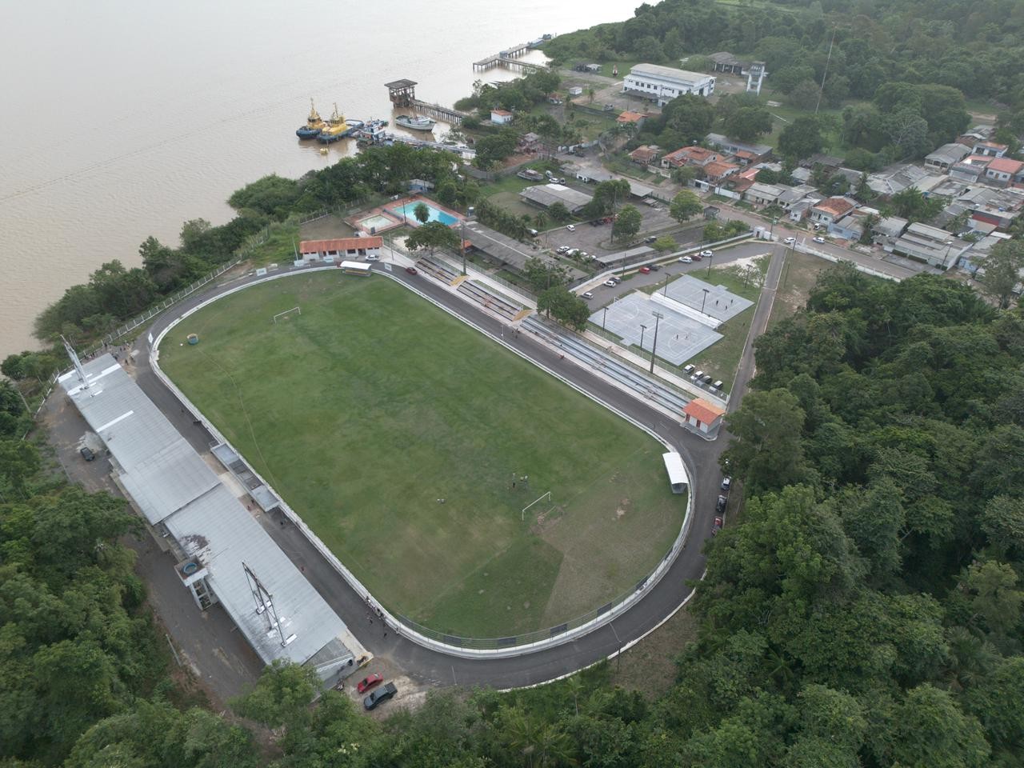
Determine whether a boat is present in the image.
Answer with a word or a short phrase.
Yes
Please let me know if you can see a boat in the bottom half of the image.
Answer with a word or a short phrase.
No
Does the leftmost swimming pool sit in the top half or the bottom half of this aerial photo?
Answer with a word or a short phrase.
top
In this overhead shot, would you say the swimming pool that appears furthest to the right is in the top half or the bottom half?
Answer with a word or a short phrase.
top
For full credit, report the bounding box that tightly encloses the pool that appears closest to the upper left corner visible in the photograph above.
[346,210,404,234]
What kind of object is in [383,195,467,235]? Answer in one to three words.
swimming pool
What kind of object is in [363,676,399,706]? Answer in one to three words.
vehicle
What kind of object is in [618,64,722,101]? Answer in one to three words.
building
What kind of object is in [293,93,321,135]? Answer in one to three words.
boat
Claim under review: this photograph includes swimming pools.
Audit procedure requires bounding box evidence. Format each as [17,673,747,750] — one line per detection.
[383,195,467,235]
[346,210,404,234]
